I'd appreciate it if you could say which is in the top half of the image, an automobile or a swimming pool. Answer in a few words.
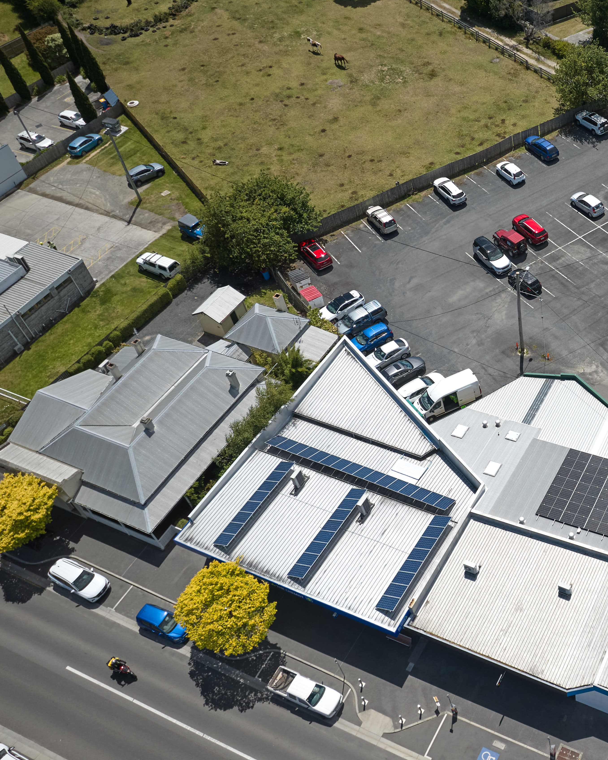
automobile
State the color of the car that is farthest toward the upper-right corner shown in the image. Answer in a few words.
blue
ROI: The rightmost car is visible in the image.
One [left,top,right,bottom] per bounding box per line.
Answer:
[571,190,608,217]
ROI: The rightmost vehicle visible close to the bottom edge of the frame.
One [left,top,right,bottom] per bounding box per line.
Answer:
[257,660,348,723]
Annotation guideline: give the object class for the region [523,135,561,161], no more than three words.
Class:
car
